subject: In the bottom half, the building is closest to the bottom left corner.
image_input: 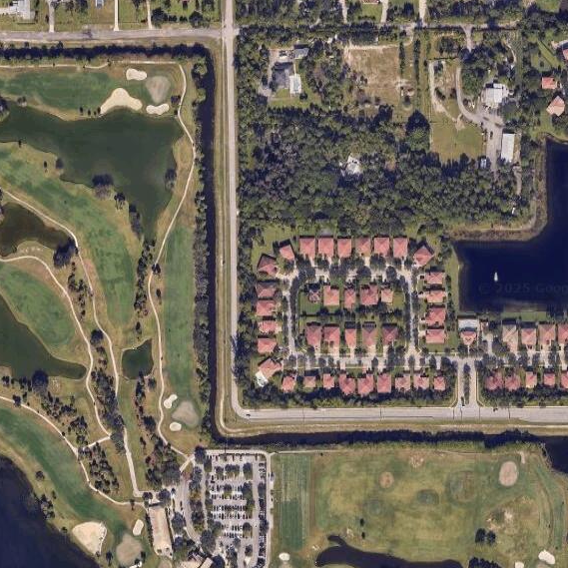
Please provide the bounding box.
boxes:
[148,506,172,558]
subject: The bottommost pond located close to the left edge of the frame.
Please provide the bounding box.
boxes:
[0,297,87,379]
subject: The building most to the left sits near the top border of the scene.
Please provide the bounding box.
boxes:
[11,0,30,19]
